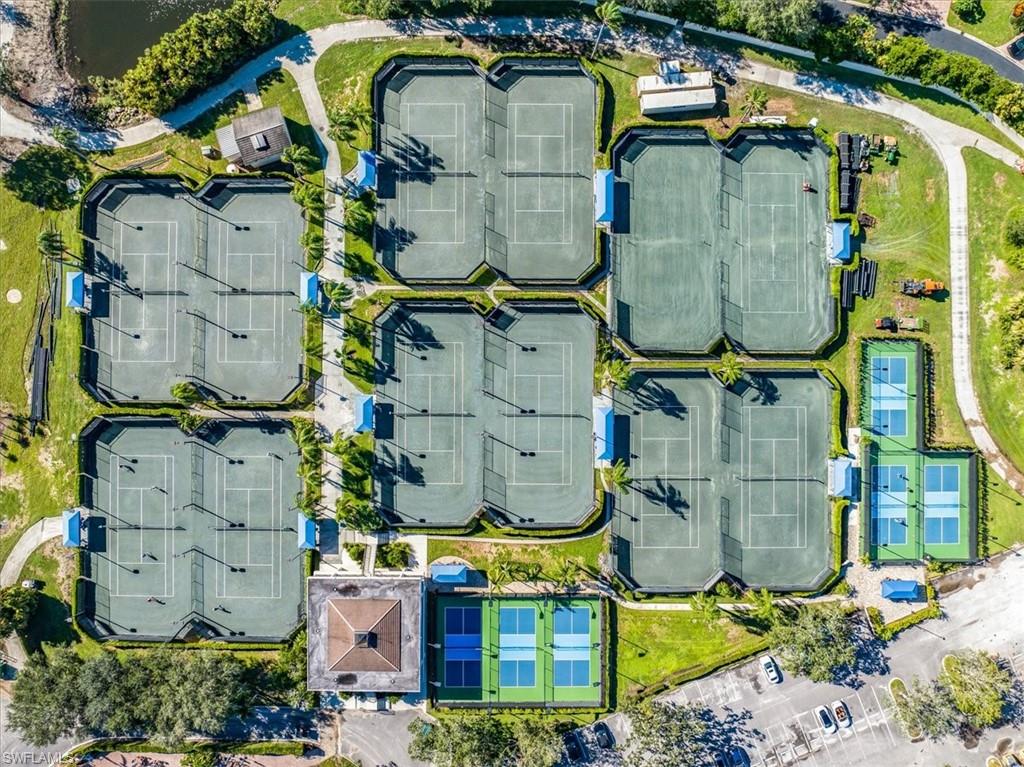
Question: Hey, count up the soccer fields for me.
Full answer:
There are no soccer fields in this view.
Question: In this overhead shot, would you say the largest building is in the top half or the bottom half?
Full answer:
You can find the largest building in the bottom half.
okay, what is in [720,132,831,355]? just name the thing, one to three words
tennis court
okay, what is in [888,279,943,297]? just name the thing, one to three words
work vehicle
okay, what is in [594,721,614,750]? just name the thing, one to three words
car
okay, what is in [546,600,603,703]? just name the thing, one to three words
sports court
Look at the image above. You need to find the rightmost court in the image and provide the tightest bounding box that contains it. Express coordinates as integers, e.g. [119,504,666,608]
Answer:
[919,452,969,558]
